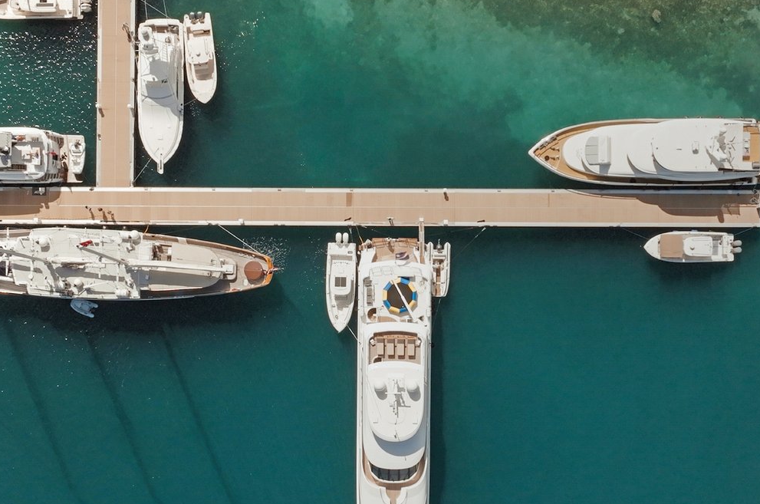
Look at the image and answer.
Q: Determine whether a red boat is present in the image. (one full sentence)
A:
No, no red boat can be seen from above.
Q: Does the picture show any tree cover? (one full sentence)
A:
No, no tree cover is visible.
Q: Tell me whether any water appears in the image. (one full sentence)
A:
Yes, water can be seen from above here.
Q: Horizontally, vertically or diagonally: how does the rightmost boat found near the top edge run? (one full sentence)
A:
What the image shows is the rightmost boat found near the top edge lying vertically.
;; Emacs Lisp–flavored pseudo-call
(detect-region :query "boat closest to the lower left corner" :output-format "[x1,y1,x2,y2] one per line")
[71,299,97,317]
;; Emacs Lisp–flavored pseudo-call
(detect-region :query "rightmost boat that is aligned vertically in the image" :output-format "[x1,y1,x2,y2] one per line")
[428,240,451,300]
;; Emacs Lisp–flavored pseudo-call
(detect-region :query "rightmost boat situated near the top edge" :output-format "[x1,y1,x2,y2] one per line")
[185,12,216,104]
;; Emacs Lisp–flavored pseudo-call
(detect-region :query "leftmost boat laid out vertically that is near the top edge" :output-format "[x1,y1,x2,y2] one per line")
[135,0,185,173]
